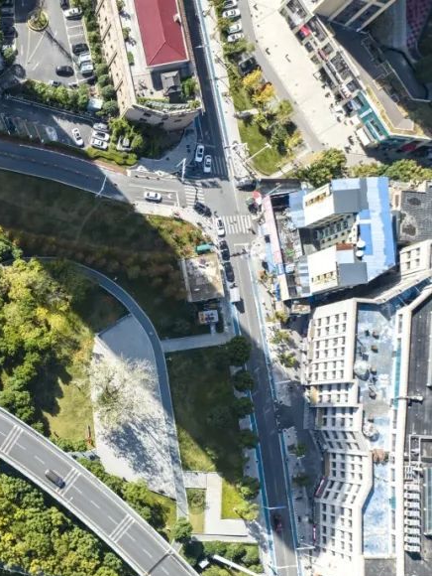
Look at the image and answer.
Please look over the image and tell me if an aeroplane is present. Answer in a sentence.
No, the frame has no aeroplane in it.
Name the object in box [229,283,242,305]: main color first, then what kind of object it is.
white vehicle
